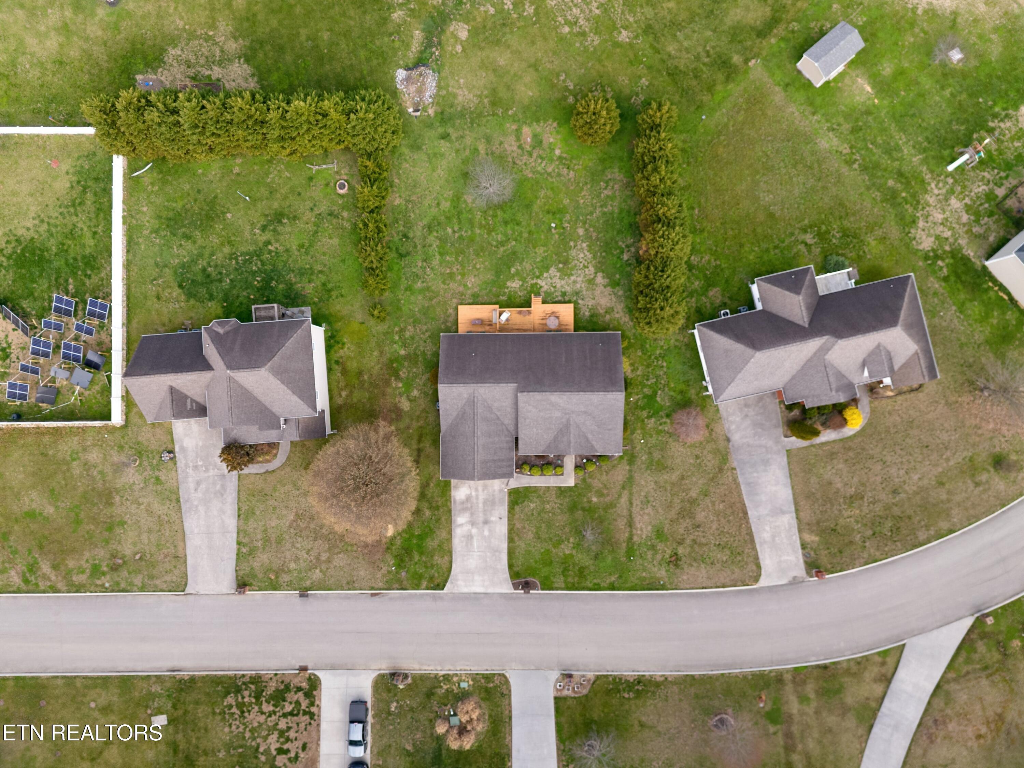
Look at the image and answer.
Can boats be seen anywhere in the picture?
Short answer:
No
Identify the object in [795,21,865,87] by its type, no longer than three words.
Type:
shed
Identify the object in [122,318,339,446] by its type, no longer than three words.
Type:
house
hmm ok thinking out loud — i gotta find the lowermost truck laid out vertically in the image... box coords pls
[343,699,369,760]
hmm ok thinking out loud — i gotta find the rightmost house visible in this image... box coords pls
[979,230,1024,308]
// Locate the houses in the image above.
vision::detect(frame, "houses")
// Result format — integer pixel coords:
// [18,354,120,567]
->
[122,318,339,446]
[979,230,1024,308]
[686,265,940,408]
[438,331,625,481]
